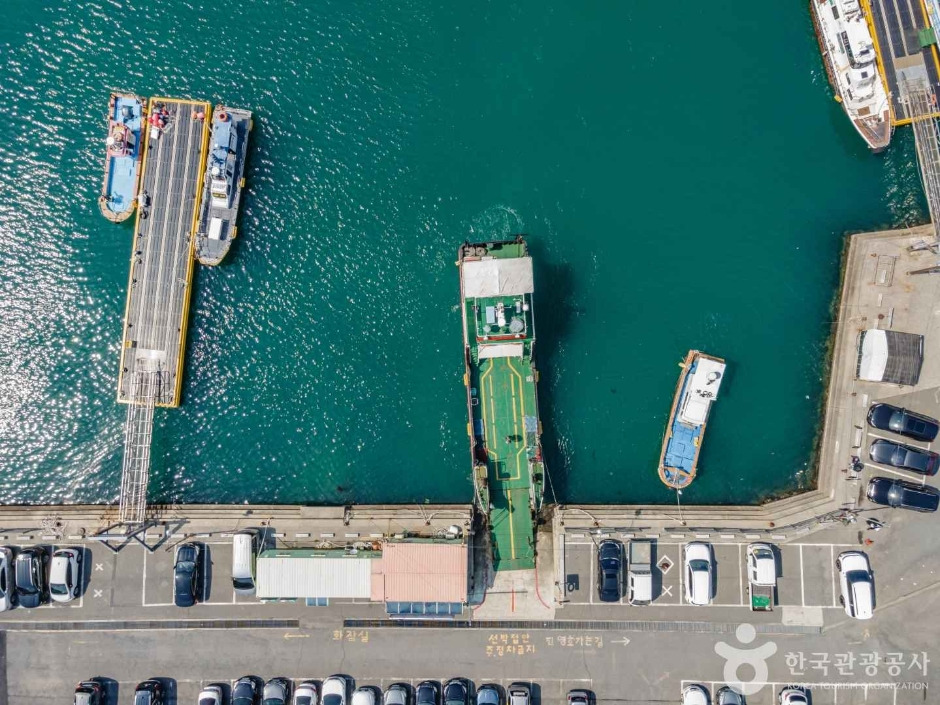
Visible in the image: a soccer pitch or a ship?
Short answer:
ship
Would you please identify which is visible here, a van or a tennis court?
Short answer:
van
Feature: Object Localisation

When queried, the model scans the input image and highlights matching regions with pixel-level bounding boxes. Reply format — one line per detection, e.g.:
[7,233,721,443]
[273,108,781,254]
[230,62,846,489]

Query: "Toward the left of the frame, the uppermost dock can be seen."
[117,96,215,408]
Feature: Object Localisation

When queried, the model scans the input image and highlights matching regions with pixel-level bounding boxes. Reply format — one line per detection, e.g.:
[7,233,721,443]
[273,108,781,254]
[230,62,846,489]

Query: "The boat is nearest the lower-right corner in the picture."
[656,350,725,493]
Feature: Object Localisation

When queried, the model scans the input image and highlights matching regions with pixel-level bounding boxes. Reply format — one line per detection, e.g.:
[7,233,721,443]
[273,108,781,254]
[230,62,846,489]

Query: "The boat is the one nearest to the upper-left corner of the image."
[98,91,148,223]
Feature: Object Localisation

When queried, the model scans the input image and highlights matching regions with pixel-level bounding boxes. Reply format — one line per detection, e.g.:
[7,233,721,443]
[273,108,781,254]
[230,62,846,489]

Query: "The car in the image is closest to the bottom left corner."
[75,678,106,705]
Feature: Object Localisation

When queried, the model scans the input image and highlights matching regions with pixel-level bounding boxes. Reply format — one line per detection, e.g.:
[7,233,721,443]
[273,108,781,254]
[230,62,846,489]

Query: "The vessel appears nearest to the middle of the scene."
[454,233,544,572]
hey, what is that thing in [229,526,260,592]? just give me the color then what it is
white van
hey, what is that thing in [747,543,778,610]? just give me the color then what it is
white truck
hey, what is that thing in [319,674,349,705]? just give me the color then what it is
white car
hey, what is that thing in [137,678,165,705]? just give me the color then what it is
black car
